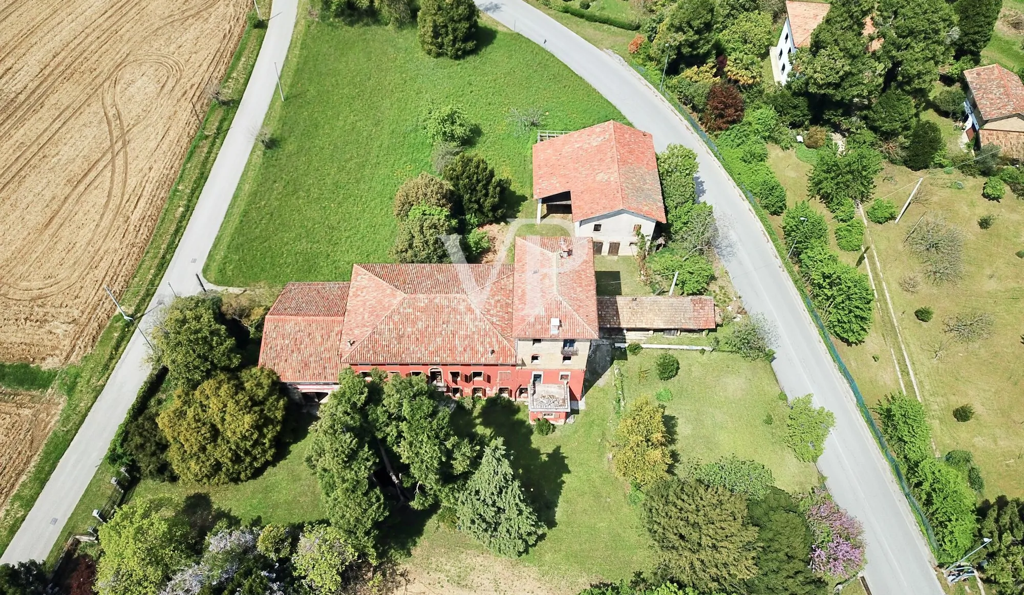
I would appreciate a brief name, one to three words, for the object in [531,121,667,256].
barn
